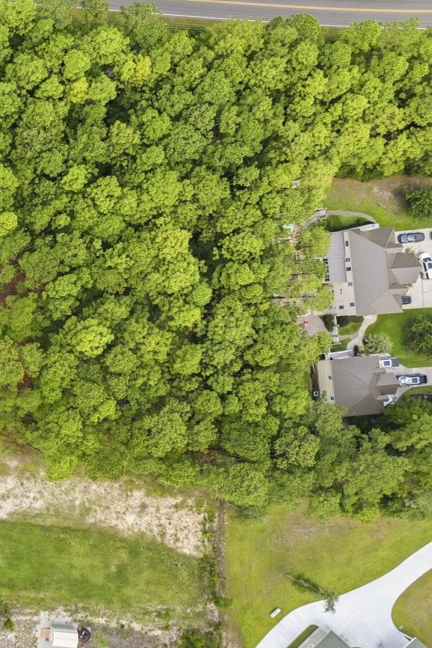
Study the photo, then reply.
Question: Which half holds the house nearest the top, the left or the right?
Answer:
right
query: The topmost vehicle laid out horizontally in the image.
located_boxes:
[395,231,425,244]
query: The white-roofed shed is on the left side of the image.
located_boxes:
[47,623,78,648]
